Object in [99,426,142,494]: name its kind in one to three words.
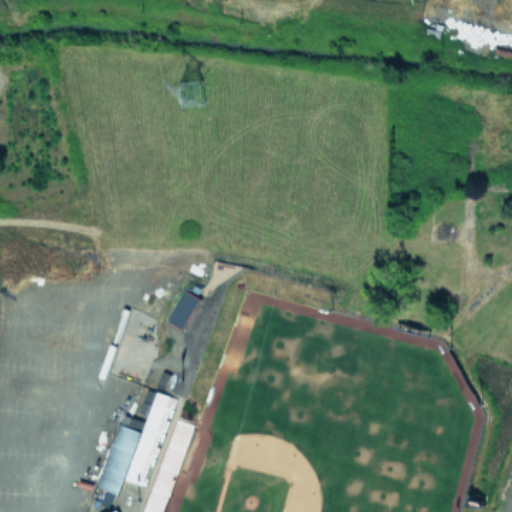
building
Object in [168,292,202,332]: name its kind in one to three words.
building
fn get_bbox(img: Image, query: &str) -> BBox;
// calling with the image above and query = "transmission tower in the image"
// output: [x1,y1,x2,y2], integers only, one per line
[166,80,206,108]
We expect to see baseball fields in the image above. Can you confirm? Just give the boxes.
[167,294,485,512]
